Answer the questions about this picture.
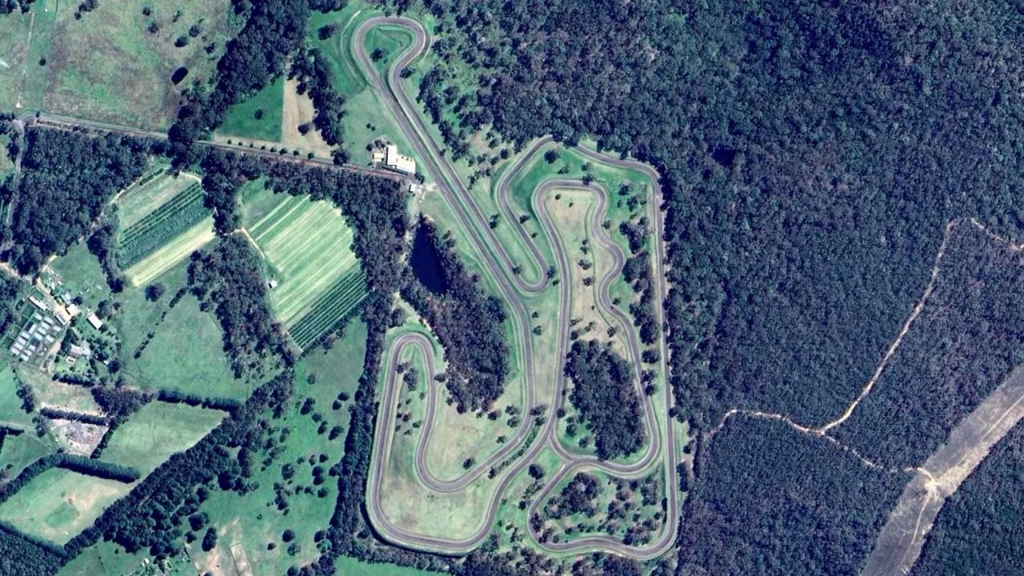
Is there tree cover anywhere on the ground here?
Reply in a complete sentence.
Yes, the picture does contain tree cover.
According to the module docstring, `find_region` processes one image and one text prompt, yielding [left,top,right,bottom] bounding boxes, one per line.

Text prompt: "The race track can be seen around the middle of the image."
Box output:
[351,12,681,559]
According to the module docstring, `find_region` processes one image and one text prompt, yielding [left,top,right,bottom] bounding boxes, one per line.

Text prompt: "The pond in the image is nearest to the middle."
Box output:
[412,217,447,294]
